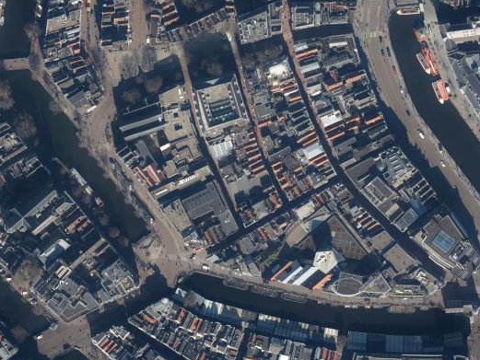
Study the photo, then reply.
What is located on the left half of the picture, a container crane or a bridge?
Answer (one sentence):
There is a bridge on the left half of the picture.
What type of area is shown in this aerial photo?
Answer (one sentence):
What you see here is a residential area.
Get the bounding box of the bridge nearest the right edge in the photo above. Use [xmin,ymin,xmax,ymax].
[132,229,192,285]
